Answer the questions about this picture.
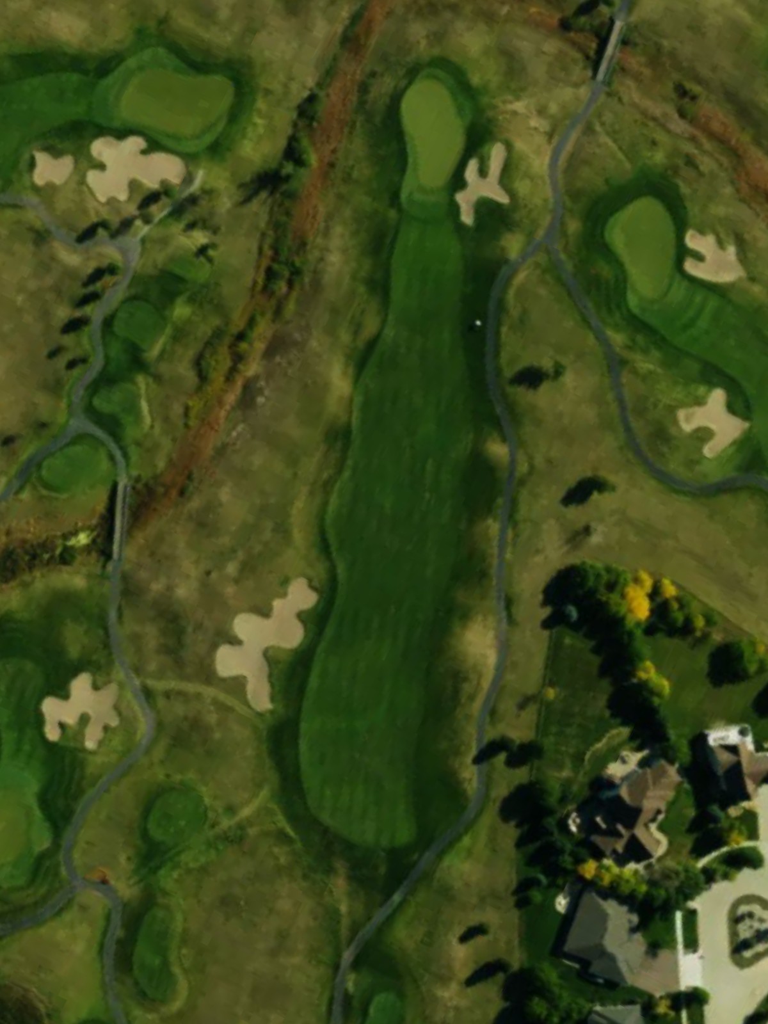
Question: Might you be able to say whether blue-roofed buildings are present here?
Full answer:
No, there isn't any blue-roofed building down there.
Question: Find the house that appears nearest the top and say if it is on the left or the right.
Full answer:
You can find the house that appears nearest the top on the right side of the picture.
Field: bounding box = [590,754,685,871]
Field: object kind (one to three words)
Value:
house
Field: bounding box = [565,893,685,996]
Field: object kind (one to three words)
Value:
house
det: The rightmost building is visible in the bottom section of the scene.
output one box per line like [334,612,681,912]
[704,725,768,805]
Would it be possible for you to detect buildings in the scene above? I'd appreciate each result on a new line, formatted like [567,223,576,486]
[565,893,685,996]
[704,725,768,805]
[590,754,685,871]
[589,1005,654,1024]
